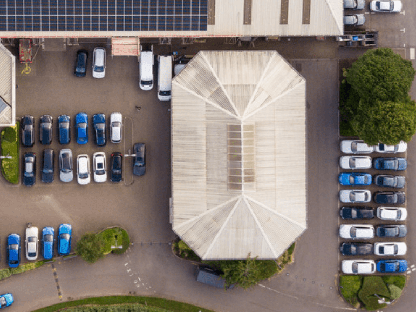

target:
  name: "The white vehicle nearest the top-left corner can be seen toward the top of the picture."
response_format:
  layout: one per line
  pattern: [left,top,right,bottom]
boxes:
[91,47,106,79]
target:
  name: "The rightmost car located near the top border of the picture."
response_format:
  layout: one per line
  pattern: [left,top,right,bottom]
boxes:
[369,0,402,13]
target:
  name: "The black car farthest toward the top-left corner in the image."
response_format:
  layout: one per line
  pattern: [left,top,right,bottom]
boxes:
[73,50,88,77]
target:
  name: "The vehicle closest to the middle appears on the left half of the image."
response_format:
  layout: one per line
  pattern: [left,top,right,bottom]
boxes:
[132,143,147,176]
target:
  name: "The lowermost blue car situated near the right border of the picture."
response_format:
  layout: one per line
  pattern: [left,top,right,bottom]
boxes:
[375,258,407,275]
